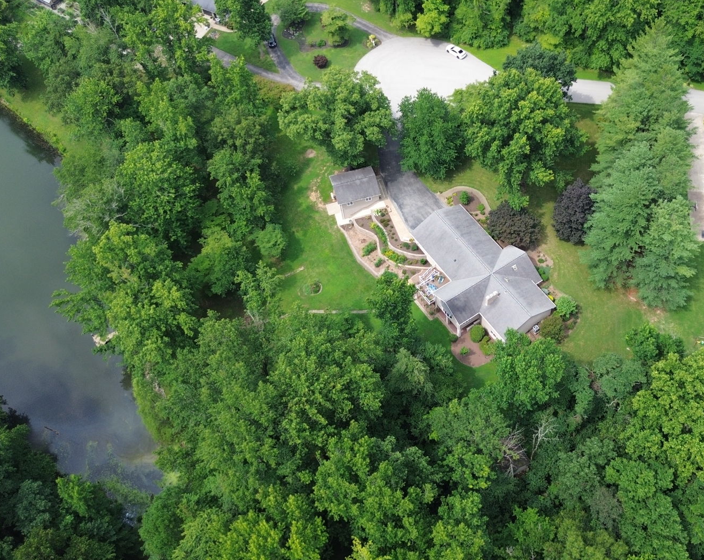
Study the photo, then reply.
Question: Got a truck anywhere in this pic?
No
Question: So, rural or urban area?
rural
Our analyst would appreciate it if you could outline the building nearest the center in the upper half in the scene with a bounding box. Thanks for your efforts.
[328,169,380,222]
